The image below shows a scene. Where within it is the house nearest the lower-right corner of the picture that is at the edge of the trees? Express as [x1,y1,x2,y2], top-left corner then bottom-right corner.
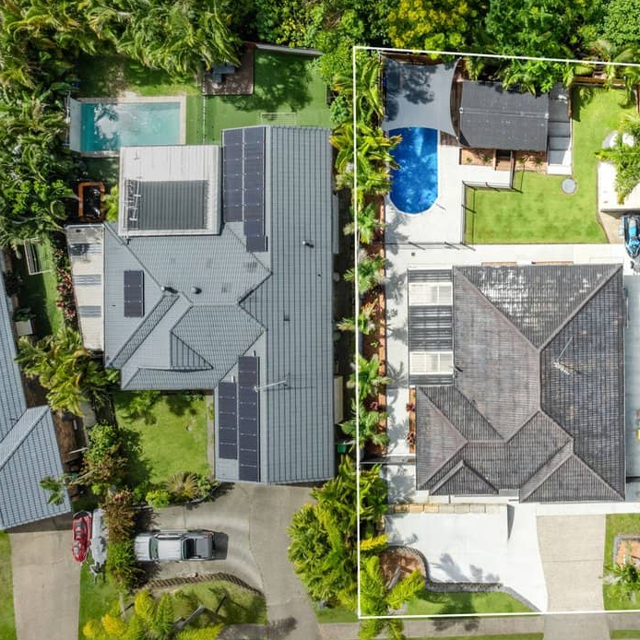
[415,263,627,505]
